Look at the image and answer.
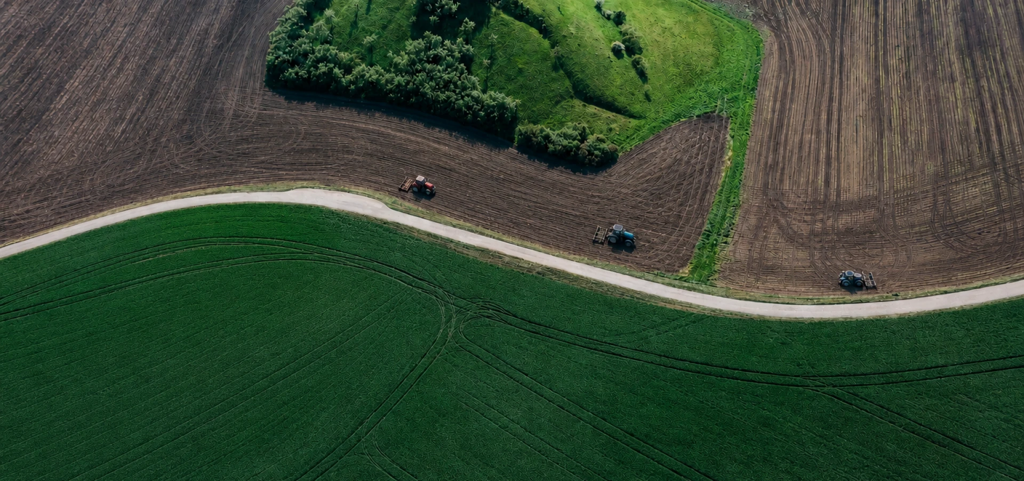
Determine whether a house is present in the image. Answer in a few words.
No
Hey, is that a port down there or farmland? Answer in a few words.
farmland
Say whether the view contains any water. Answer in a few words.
No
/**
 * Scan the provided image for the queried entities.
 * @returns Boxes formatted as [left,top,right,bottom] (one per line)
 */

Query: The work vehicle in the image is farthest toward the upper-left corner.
[411,175,438,196]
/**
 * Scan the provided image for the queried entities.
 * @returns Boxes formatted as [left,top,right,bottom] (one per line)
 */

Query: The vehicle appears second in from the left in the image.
[607,223,636,245]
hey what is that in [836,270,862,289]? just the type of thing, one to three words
work vehicle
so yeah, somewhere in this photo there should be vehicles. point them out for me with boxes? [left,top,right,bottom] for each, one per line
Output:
[607,223,636,245]
[411,175,438,196]
[836,270,862,289]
